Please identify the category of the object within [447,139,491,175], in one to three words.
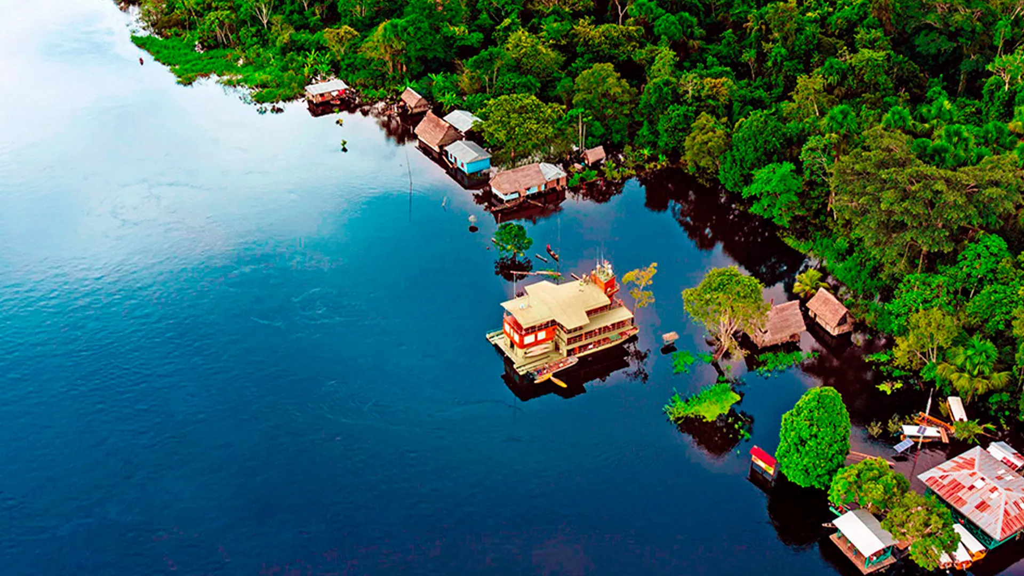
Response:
house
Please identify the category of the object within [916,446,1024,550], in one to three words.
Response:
house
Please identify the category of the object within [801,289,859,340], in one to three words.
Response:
shed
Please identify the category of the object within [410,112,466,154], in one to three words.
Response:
shed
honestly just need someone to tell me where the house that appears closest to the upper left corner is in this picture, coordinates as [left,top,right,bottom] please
[306,81,353,105]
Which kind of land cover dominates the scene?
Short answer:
water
